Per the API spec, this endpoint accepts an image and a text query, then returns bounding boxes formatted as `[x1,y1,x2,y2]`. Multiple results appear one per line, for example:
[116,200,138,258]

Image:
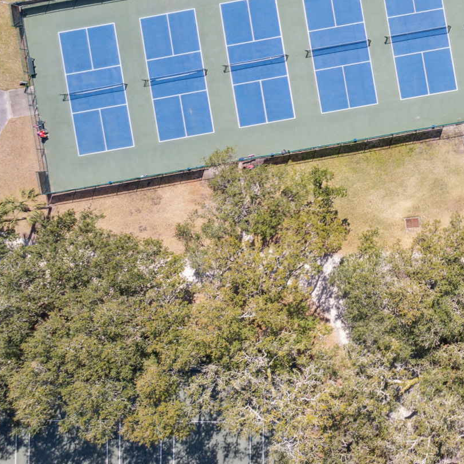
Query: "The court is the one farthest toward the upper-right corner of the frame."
[384,0,456,99]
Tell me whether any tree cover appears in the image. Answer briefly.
Yes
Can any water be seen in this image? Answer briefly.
No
